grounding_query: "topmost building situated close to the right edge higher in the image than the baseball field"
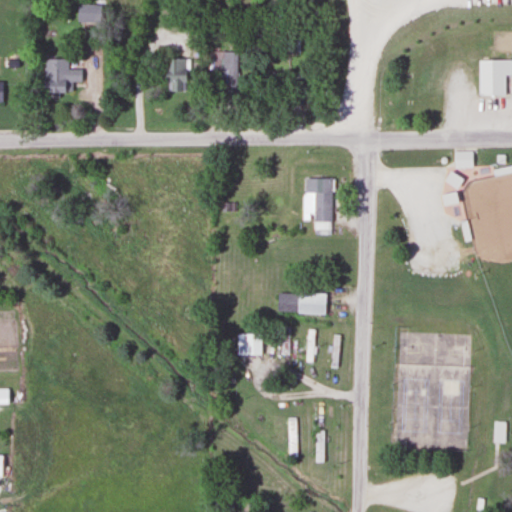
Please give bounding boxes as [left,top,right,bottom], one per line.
[480,60,512,99]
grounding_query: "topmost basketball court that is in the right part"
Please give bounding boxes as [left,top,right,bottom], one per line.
[397,333,472,366]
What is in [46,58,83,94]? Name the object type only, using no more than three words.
house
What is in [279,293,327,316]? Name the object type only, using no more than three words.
house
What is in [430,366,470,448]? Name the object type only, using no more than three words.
tennis court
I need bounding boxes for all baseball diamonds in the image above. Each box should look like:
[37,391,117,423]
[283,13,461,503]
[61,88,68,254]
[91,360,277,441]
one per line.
[465,174,512,262]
